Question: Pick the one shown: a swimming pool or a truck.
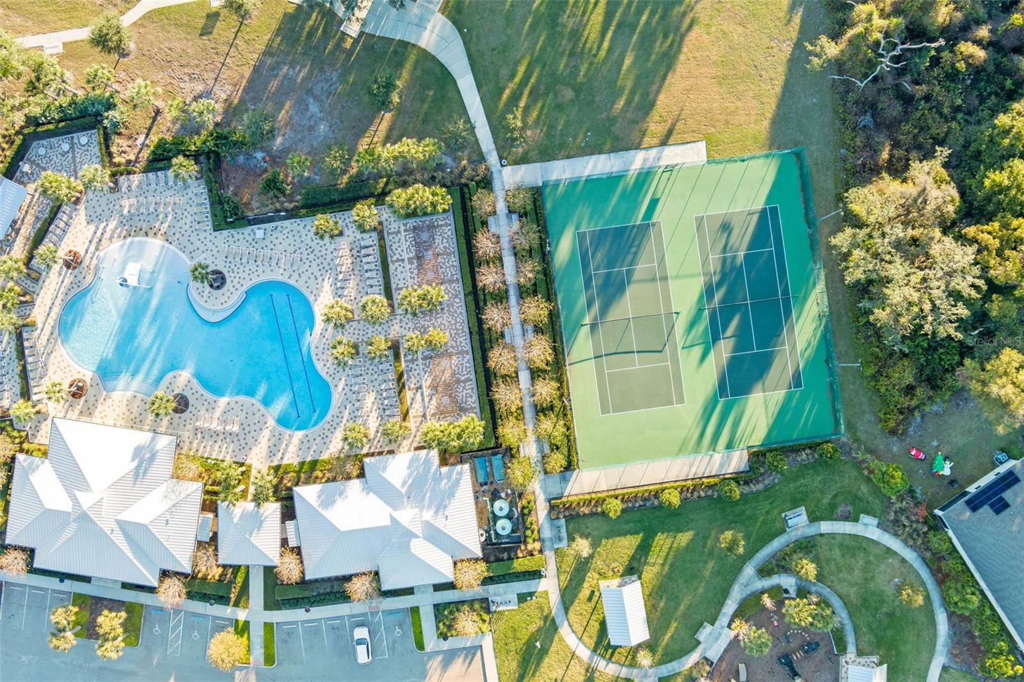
swimming pool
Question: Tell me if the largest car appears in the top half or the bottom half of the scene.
bottom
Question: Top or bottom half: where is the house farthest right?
bottom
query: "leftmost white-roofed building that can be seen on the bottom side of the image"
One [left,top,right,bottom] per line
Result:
[5,417,207,587]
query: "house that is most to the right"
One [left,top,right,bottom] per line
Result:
[931,447,1024,654]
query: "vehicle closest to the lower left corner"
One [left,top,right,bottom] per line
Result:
[352,627,372,664]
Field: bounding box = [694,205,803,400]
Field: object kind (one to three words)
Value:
tennis court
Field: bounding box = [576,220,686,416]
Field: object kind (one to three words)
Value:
tennis court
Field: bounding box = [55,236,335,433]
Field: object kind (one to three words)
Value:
swimming pool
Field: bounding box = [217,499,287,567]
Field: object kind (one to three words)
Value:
building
